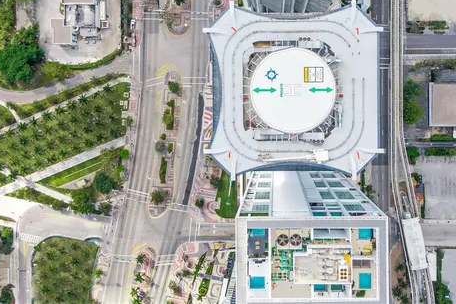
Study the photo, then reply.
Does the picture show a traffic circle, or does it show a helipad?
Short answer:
helipad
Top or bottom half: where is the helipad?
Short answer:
top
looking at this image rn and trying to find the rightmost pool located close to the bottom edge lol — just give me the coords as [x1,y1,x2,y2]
[358,272,372,290]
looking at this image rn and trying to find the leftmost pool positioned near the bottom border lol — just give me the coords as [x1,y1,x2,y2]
[249,275,266,290]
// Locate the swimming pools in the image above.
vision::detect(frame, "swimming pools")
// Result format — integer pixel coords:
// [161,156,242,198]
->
[249,275,266,290]
[313,283,326,292]
[331,283,343,292]
[358,229,373,240]
[358,272,372,290]
[250,229,267,237]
